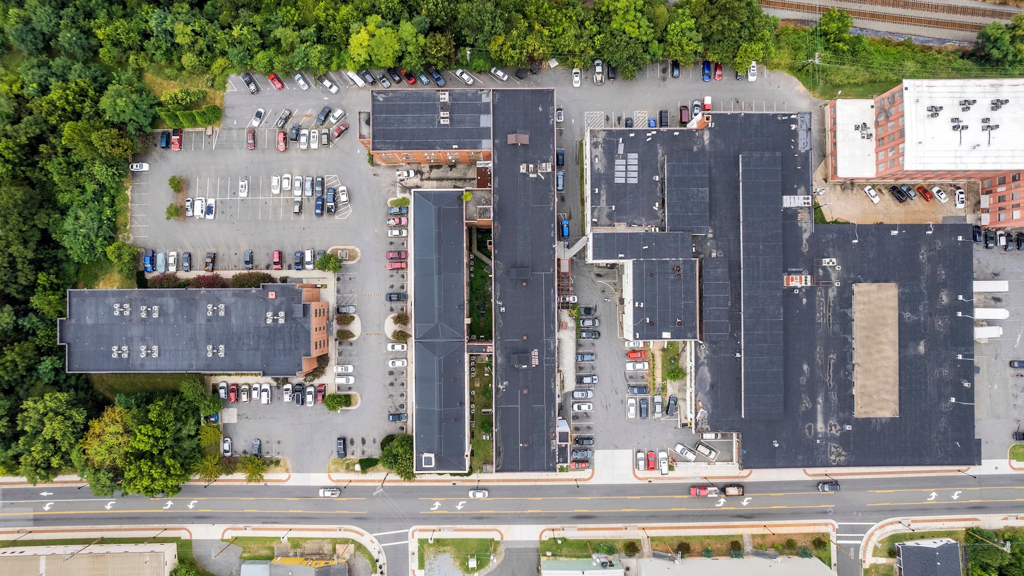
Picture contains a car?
Yes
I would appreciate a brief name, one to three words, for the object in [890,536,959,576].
house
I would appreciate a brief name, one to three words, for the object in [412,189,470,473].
building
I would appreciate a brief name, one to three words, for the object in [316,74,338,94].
vehicle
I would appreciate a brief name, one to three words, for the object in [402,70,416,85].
car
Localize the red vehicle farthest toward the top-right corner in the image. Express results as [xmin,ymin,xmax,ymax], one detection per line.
[917,186,933,202]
